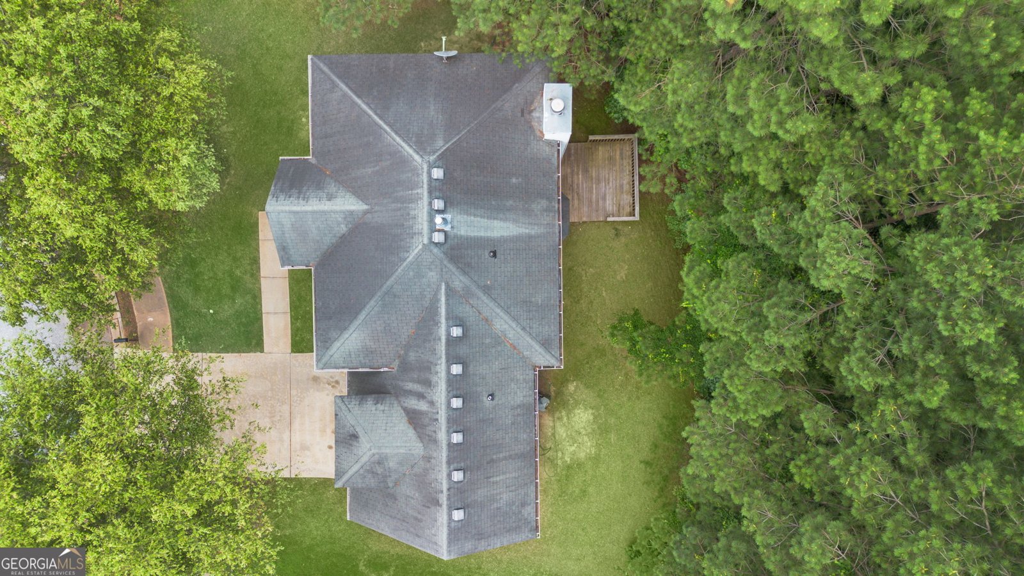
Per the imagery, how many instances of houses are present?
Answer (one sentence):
My tally gives 1 house in this photo.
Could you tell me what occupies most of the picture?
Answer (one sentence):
What you mostly see from above here is trees.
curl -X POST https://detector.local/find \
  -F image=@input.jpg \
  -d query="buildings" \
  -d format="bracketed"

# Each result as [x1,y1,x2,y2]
[266,51,573,560]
